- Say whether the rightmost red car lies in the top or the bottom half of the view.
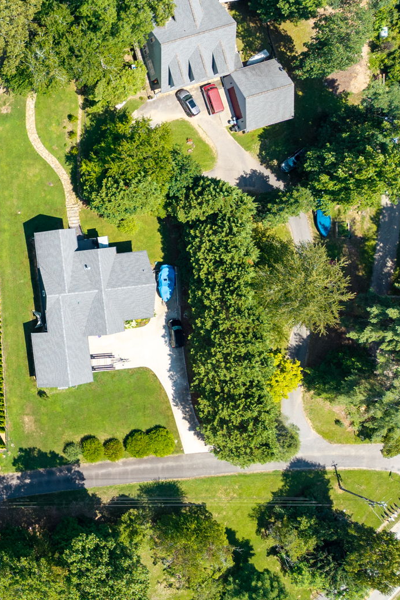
top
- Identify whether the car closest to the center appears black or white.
black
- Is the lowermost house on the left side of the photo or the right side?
left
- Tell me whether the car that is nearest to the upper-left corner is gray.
Yes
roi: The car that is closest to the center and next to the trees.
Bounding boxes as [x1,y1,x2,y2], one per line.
[164,316,184,349]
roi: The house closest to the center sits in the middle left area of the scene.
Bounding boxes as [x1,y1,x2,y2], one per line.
[29,229,159,387]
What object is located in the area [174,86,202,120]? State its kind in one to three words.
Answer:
car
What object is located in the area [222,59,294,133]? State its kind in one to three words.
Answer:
building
